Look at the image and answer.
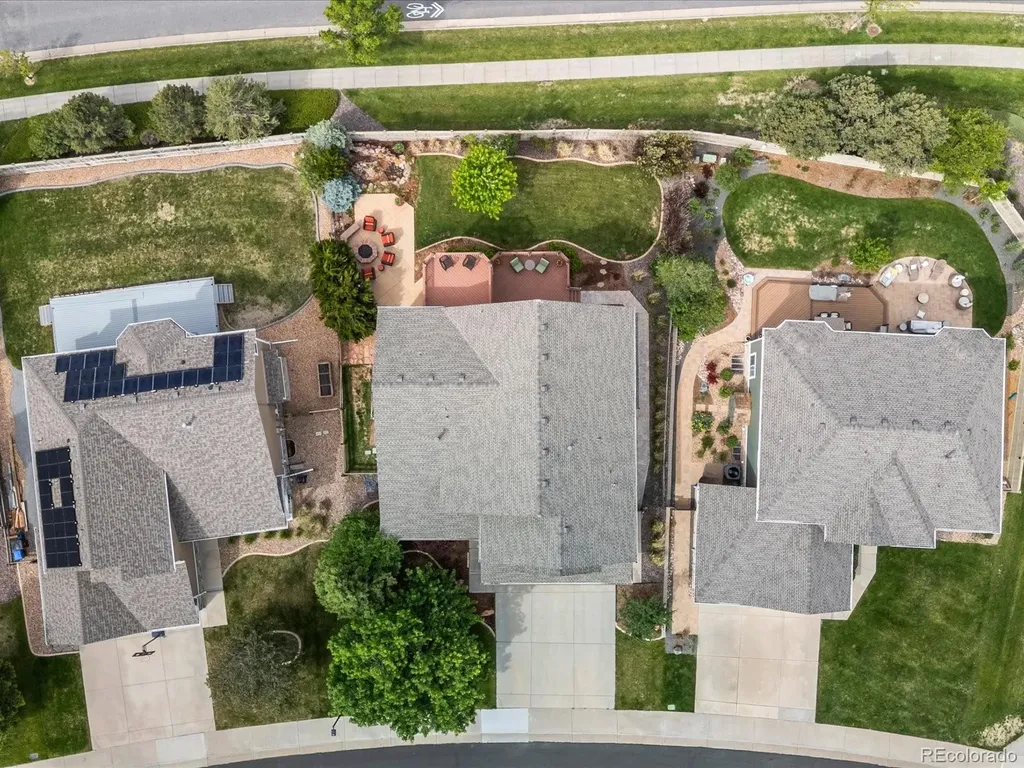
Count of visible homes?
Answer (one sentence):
My tally gives 3 homes in this view.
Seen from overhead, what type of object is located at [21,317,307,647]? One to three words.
house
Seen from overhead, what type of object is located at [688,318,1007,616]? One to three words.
house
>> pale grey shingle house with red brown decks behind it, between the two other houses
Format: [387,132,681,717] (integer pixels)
[373,299,639,586]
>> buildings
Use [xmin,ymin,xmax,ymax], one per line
[688,318,1007,616]
[21,317,307,647]
[373,299,639,586]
